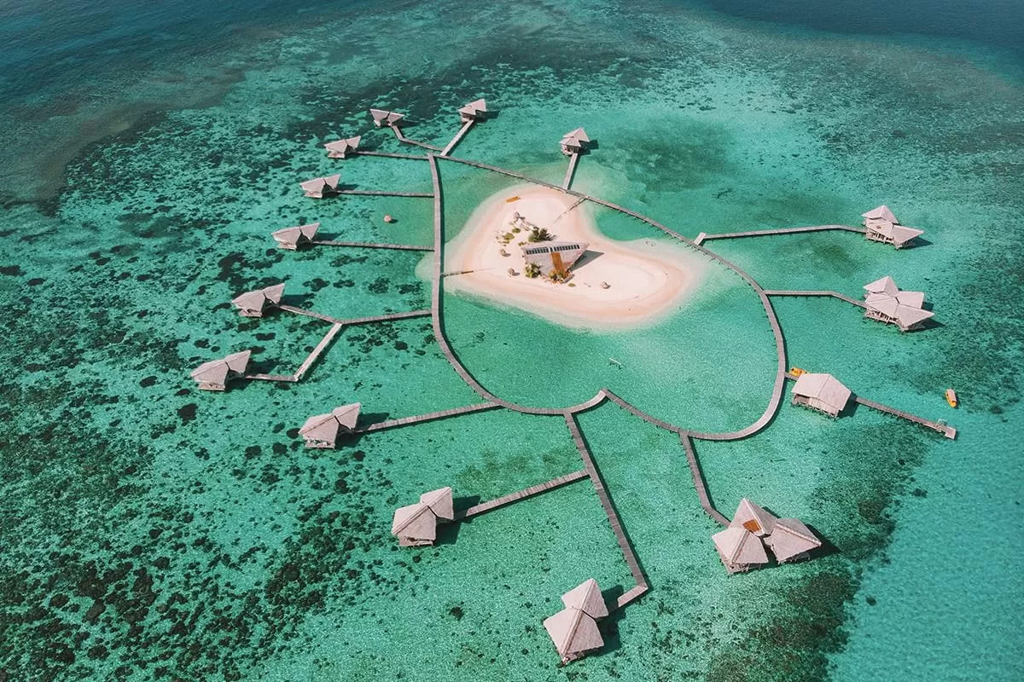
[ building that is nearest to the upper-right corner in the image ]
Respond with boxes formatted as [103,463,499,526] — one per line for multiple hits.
[860,204,926,255]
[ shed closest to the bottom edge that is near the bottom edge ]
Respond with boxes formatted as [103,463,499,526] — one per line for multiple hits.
[545,578,608,671]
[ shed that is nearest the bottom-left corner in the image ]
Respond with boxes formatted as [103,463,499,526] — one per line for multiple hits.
[189,348,253,400]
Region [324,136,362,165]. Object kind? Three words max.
shed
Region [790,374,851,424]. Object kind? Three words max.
building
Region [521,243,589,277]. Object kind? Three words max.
house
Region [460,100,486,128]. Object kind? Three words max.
shed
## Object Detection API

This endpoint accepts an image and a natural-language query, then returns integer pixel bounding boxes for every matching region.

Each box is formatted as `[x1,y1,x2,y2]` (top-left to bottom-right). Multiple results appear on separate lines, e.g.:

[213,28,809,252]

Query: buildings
[324,136,362,165]
[712,495,824,583]
[298,402,362,458]
[393,486,453,557]
[561,128,589,160]
[370,109,403,134]
[545,578,608,671]
[860,204,926,255]
[790,374,851,424]
[861,274,936,338]
[272,222,321,257]
[460,100,486,128]
[300,174,343,206]
[521,243,589,277]
[189,348,253,400]
[231,282,288,326]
